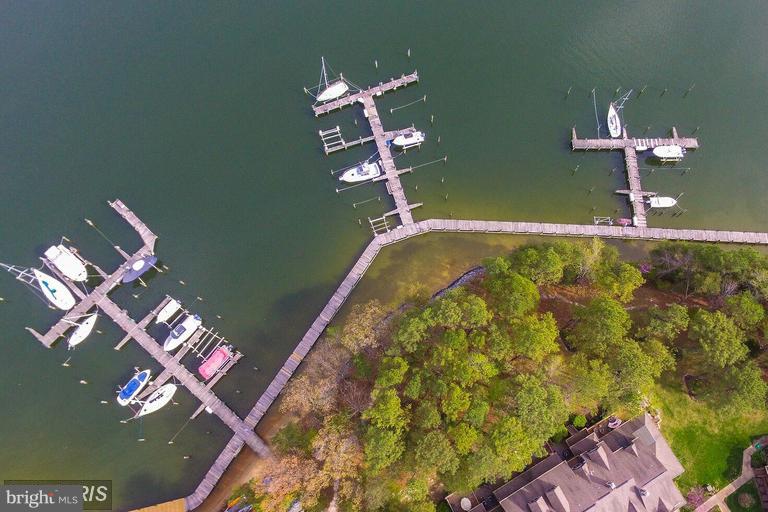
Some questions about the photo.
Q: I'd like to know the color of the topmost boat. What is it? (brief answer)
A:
white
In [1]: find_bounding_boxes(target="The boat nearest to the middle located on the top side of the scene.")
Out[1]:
[336,164,385,181]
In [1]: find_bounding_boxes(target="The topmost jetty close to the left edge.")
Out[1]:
[25,199,272,462]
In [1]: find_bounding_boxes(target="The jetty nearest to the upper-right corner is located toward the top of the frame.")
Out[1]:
[571,125,701,229]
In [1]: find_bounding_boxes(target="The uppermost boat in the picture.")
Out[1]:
[316,58,349,102]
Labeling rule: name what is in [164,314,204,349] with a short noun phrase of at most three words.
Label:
boat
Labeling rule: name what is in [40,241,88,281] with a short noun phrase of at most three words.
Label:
boat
